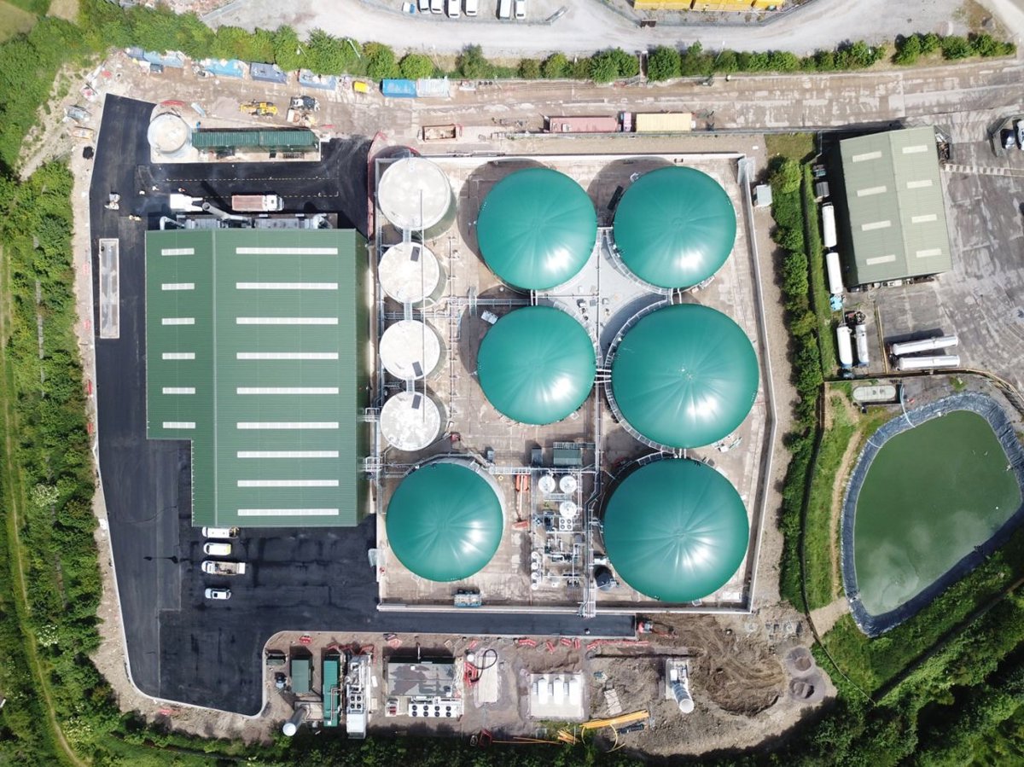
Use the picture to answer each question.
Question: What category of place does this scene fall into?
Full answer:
The picture captures an industrial area.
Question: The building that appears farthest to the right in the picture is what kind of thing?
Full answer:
The building that appears farthest to the right appears to be a warehouse.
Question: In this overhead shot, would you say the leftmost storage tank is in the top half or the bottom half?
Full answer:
The top half of the photo is where the leftmost storage tank is.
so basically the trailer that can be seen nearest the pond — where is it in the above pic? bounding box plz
[894,356,960,371]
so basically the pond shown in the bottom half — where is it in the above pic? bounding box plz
[838,389,1024,638]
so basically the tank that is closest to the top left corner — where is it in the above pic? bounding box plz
[147,111,201,164]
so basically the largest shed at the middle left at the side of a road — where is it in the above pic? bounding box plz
[145,228,367,528]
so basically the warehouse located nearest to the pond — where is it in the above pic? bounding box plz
[826,126,952,289]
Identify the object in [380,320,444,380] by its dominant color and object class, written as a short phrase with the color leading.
white storage tank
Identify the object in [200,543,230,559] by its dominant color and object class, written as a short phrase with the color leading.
white vehicle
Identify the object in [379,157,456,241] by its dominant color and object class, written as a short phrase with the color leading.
white storage tank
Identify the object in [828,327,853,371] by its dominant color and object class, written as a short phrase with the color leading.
white trailer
